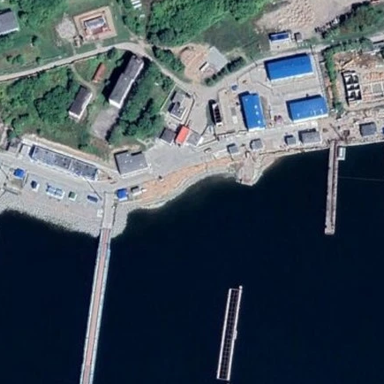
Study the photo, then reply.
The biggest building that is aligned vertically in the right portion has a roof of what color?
blue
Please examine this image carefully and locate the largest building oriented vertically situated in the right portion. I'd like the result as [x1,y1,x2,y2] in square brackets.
[242,92,265,131]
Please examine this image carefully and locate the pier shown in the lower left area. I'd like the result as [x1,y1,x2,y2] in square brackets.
[80,230,110,384]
